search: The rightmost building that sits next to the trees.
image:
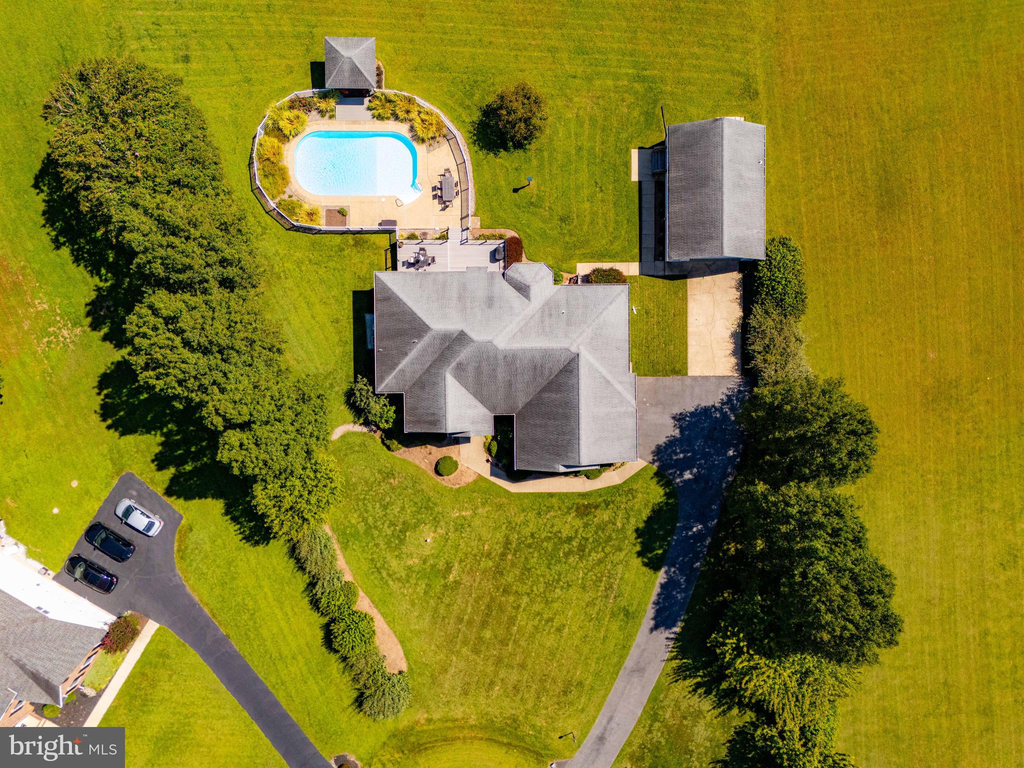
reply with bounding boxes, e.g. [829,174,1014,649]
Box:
[663,118,766,264]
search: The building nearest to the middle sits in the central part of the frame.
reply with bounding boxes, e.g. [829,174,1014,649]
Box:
[363,262,639,472]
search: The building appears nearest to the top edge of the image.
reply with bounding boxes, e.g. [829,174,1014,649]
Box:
[324,36,379,97]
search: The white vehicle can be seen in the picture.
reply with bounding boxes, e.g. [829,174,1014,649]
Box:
[114,498,166,539]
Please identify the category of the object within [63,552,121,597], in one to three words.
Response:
car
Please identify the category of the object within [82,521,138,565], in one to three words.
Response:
car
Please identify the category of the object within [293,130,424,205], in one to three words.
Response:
swimming pool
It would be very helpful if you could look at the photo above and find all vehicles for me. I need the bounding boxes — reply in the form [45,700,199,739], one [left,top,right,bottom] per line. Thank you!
[114,498,166,539]
[82,521,138,565]
[63,552,121,597]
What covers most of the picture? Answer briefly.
grass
